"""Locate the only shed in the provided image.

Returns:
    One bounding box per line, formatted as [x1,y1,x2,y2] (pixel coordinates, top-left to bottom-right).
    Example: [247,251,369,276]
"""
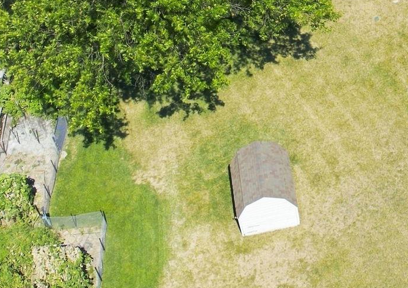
[229,133,300,236]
